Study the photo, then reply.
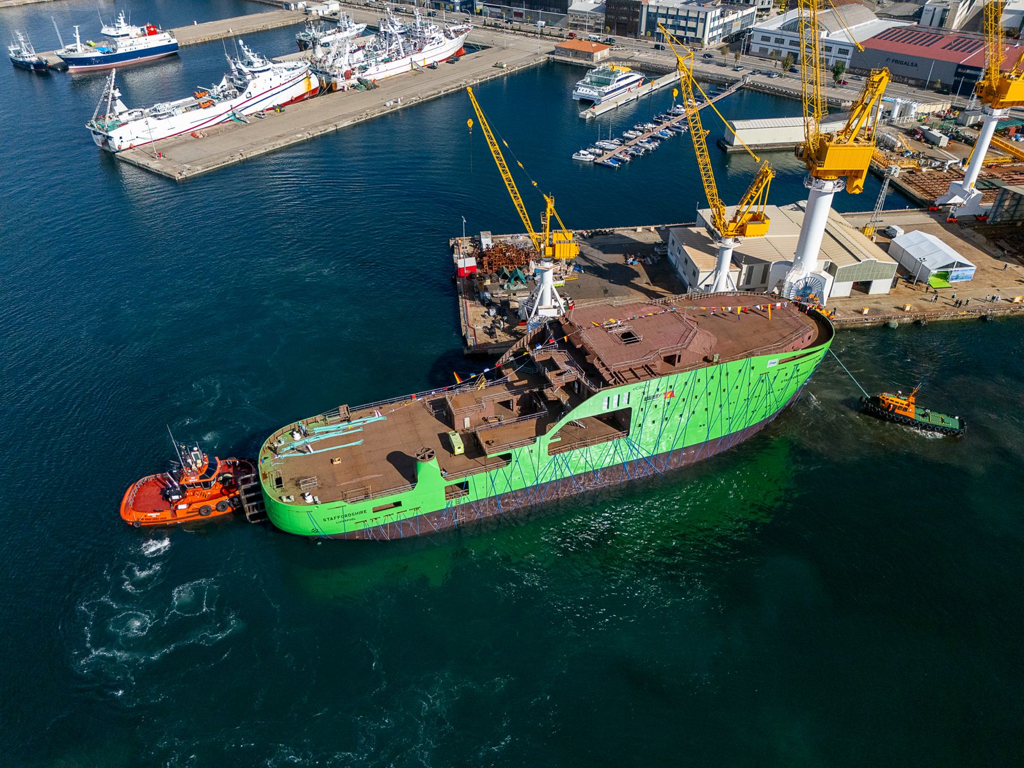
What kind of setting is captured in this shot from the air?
port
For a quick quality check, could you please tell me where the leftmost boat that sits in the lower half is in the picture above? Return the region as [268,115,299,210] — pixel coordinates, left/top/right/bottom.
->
[116,442,255,527]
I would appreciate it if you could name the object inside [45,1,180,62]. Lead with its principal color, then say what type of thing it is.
white ship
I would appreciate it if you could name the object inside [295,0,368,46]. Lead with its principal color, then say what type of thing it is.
white vessel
